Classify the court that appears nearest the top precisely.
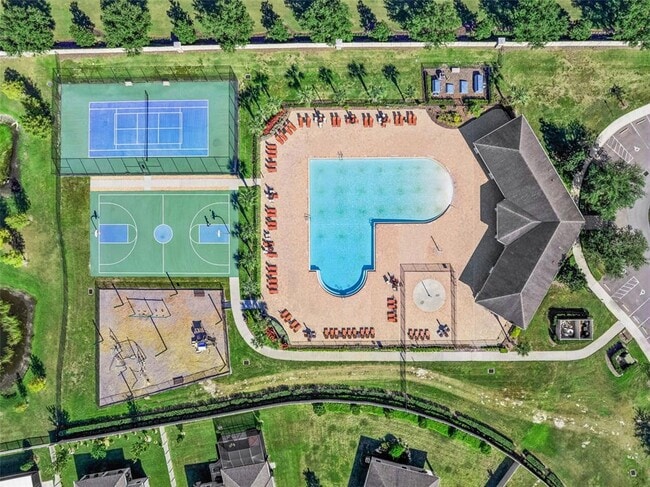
tennis court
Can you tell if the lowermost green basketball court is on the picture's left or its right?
left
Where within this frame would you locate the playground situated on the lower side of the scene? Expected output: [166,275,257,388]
[98,289,229,406]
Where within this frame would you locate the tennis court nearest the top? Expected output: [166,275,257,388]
[62,83,236,174]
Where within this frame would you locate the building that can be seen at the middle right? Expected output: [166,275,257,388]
[470,114,608,330]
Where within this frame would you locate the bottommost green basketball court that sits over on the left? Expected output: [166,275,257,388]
[90,190,238,276]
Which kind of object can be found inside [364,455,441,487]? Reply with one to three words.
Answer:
house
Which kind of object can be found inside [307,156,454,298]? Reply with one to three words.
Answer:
swimming pool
